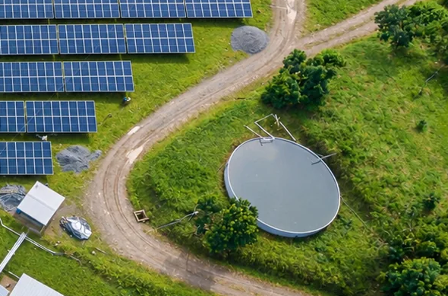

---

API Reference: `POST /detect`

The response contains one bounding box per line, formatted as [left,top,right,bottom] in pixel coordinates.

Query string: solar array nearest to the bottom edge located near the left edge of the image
[0,143,52,175]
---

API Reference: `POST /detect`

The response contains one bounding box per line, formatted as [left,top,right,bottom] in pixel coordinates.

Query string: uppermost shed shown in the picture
[15,182,65,240]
